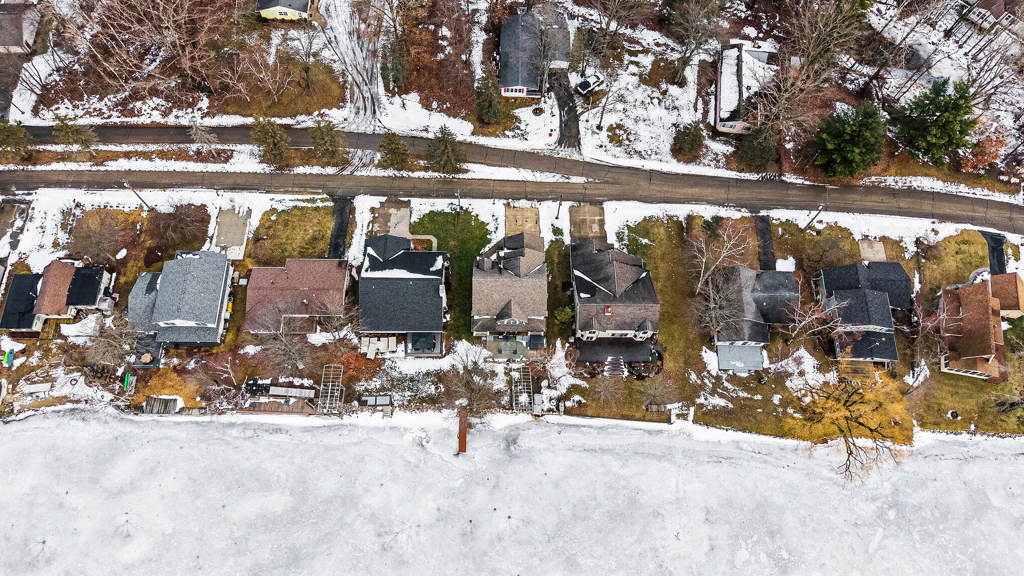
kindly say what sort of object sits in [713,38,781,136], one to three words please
house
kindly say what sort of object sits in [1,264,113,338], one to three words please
house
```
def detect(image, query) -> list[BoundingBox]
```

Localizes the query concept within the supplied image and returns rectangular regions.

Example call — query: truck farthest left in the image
[576,73,606,97]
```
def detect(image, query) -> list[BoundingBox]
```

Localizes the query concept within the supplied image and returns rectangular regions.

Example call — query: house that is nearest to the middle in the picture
[471,233,549,360]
